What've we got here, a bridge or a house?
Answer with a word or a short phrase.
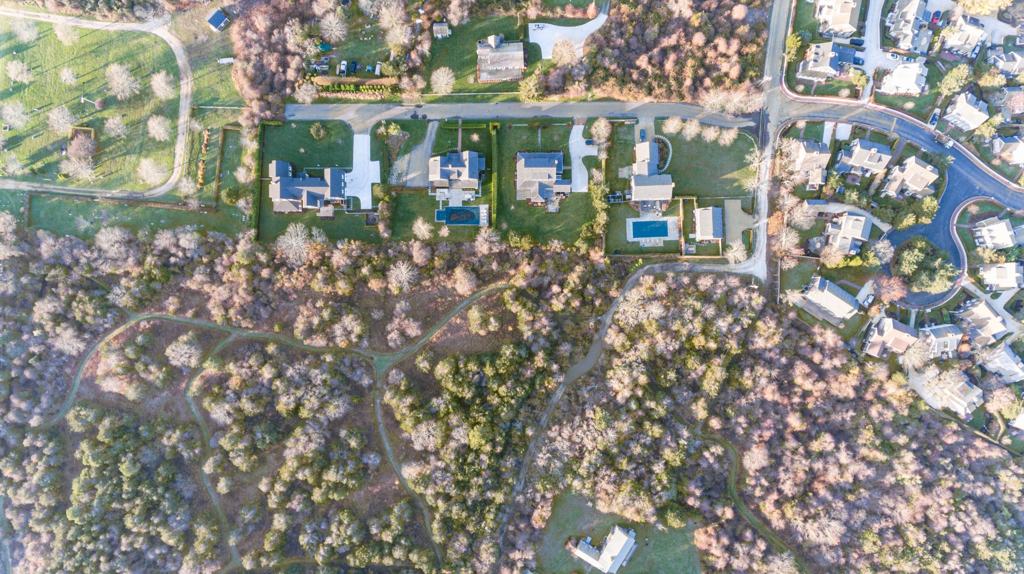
house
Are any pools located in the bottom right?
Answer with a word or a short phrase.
No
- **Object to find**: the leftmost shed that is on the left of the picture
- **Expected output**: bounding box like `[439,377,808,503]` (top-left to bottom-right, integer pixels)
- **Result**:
[206,7,231,33]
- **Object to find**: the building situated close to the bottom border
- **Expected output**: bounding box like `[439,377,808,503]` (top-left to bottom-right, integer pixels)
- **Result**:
[570,523,641,574]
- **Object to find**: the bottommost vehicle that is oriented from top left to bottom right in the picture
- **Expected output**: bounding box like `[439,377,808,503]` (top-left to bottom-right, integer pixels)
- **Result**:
[935,132,954,147]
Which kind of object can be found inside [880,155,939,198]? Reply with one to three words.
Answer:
house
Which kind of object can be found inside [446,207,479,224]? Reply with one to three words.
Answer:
swimming pool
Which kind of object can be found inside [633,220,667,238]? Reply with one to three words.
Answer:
swimming pool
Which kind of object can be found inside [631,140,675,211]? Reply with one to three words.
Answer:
house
